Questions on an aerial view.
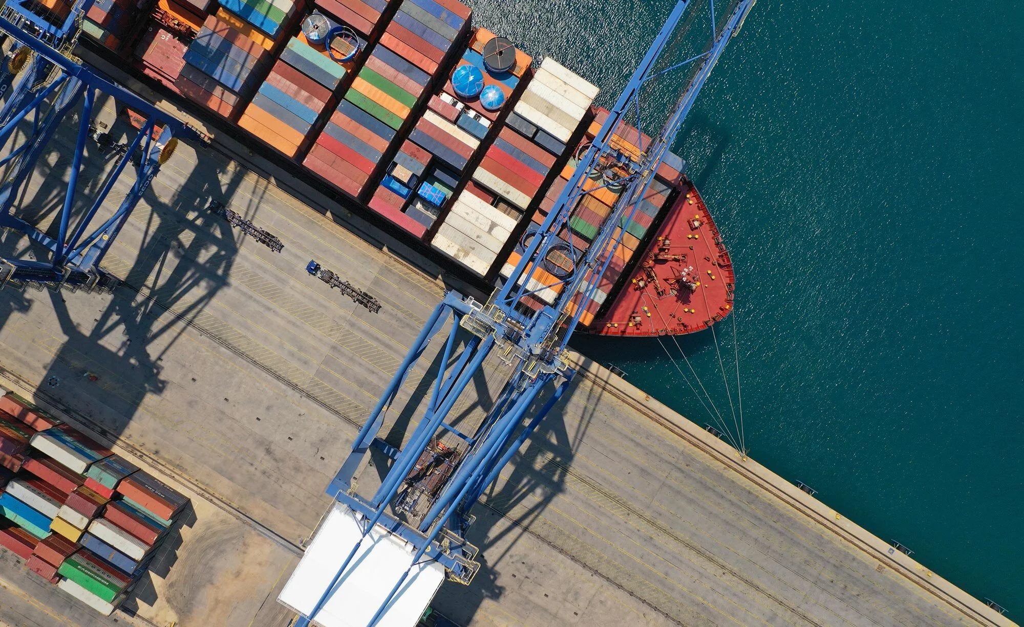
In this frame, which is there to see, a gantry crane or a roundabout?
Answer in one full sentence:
Looking from above, you can make out a gantry crane.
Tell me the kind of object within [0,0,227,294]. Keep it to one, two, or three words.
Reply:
container crane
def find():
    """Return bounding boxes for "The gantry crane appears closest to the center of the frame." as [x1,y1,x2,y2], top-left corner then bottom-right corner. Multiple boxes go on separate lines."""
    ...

[271,0,759,627]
